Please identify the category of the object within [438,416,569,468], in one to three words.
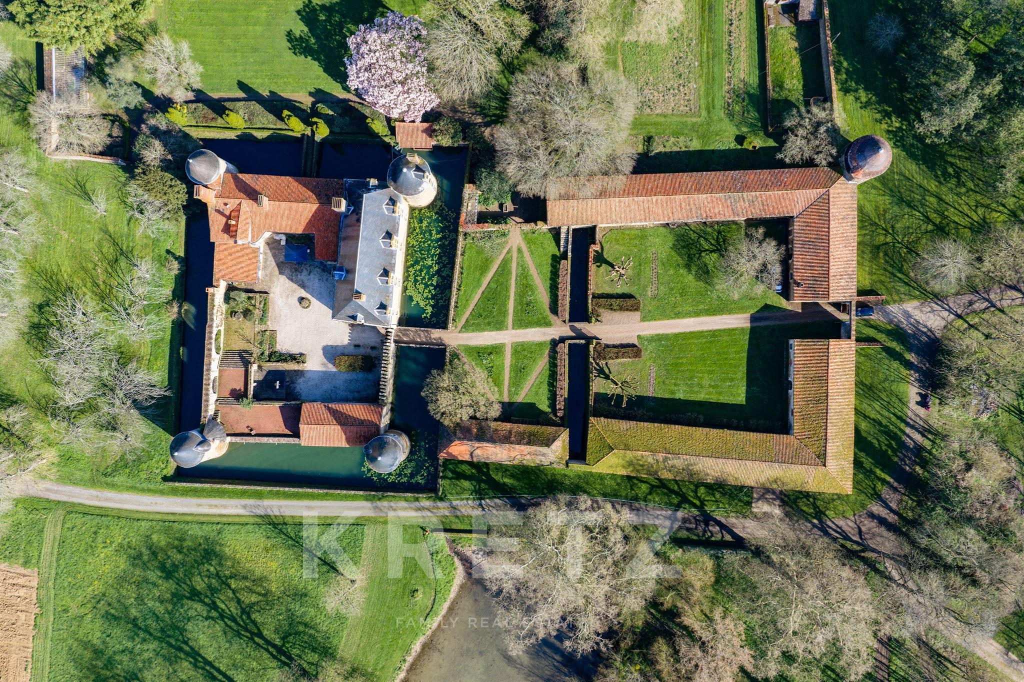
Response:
shed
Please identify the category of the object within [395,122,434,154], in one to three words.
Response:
building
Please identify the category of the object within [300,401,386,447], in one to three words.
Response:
barn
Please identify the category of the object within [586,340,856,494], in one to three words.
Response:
shed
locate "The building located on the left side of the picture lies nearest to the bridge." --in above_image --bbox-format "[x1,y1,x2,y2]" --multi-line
[330,178,410,328]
